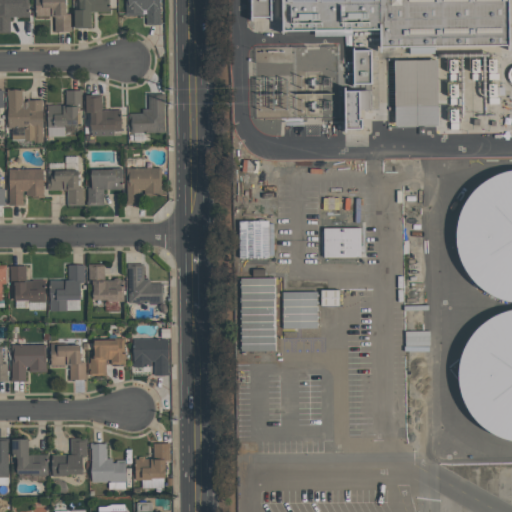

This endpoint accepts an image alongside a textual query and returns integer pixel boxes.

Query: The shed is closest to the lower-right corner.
[406,332,431,346]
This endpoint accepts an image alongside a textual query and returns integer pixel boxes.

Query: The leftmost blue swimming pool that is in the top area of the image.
[22,150,44,167]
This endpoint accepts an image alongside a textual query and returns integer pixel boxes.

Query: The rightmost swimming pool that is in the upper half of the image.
[145,149,166,166]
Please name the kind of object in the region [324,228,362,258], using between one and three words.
building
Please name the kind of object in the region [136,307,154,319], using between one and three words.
swimming pool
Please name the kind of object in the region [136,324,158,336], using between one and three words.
swimming pool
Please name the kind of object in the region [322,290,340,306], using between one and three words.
shed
